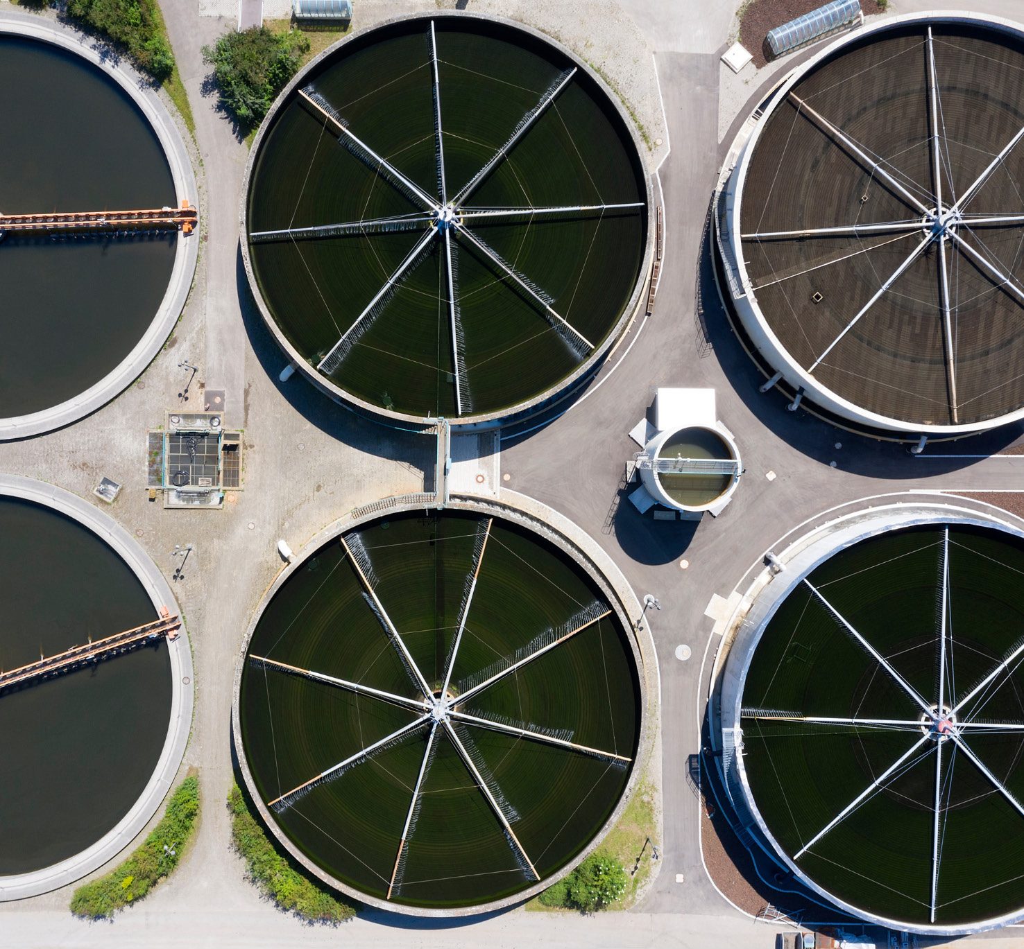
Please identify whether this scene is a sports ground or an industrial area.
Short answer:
industrial area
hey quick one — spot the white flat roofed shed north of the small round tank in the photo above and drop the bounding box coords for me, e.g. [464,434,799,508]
[655,388,715,438]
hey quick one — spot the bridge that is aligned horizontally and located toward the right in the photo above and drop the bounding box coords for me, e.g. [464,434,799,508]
[653,452,747,475]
